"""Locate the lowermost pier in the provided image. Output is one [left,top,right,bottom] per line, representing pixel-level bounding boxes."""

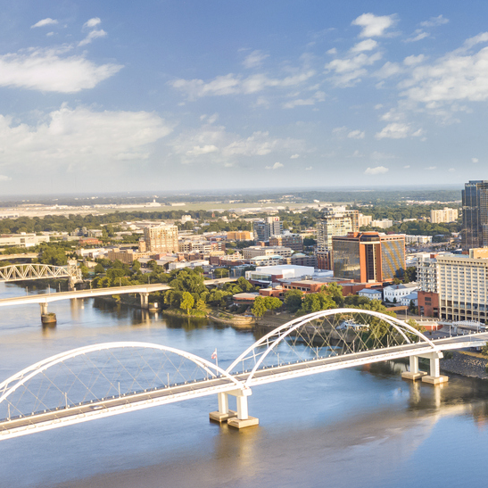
[211,384,264,427]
